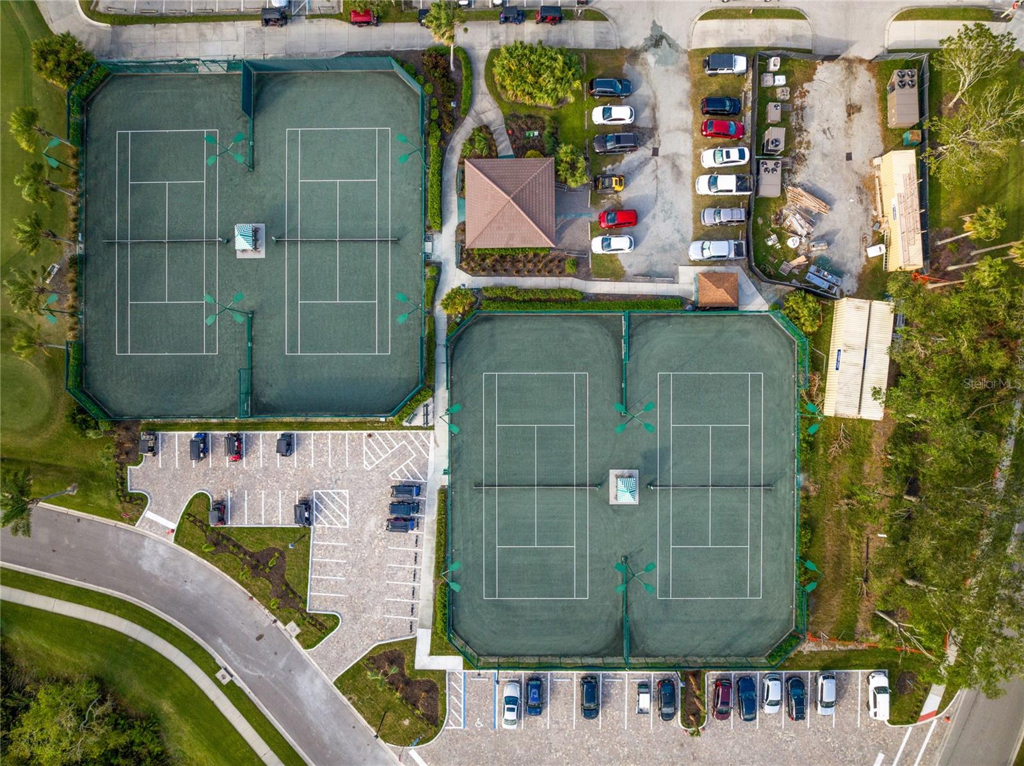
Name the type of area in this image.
sports ground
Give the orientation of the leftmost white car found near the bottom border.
from top to bottom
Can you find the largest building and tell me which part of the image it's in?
top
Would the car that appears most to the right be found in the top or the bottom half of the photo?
bottom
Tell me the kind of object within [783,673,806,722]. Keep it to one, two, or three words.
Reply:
truck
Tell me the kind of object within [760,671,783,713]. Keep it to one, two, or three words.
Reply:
car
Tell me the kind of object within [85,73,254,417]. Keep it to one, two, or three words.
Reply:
tennis court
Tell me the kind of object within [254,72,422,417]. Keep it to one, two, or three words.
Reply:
tennis court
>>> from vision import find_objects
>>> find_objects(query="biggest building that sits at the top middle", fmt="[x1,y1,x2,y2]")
[464,157,557,252]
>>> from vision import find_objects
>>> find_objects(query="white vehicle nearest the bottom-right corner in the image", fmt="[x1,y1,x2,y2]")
[865,670,892,724]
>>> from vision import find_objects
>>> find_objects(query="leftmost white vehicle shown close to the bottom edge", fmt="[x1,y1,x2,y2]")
[502,679,522,728]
